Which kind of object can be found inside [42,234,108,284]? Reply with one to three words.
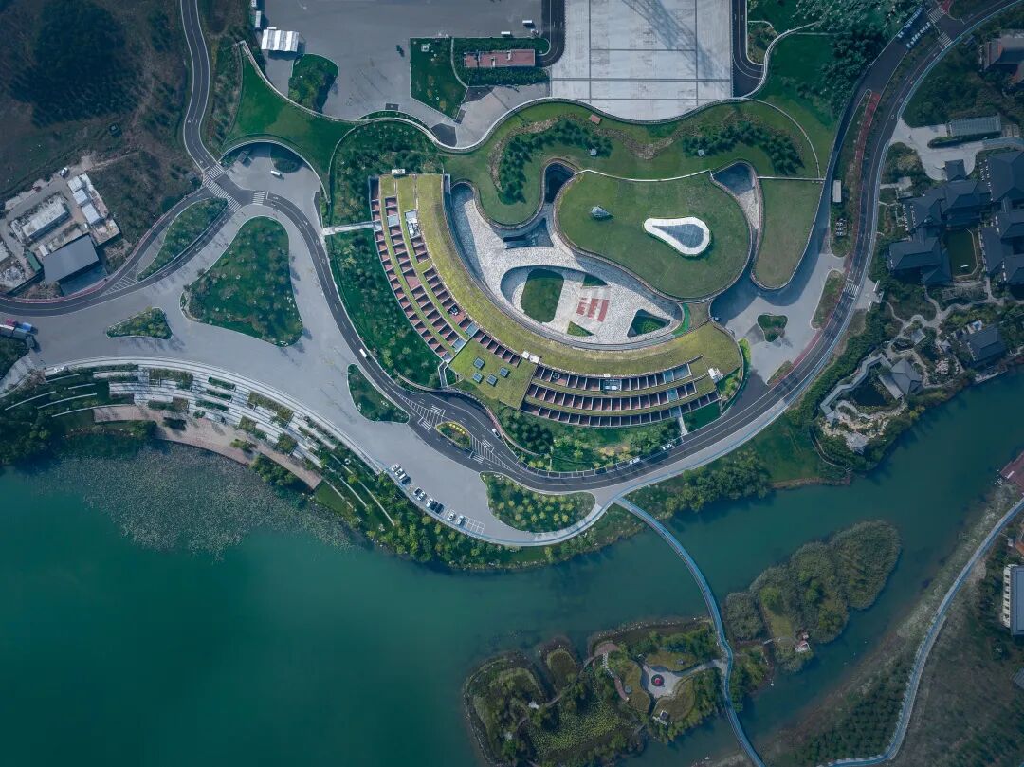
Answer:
shed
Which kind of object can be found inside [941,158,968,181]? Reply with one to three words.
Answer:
building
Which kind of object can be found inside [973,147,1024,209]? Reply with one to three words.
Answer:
building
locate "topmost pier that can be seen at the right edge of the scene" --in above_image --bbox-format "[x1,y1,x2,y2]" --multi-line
[999,452,1024,482]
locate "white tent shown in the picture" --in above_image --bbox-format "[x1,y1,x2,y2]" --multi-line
[262,29,301,55]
